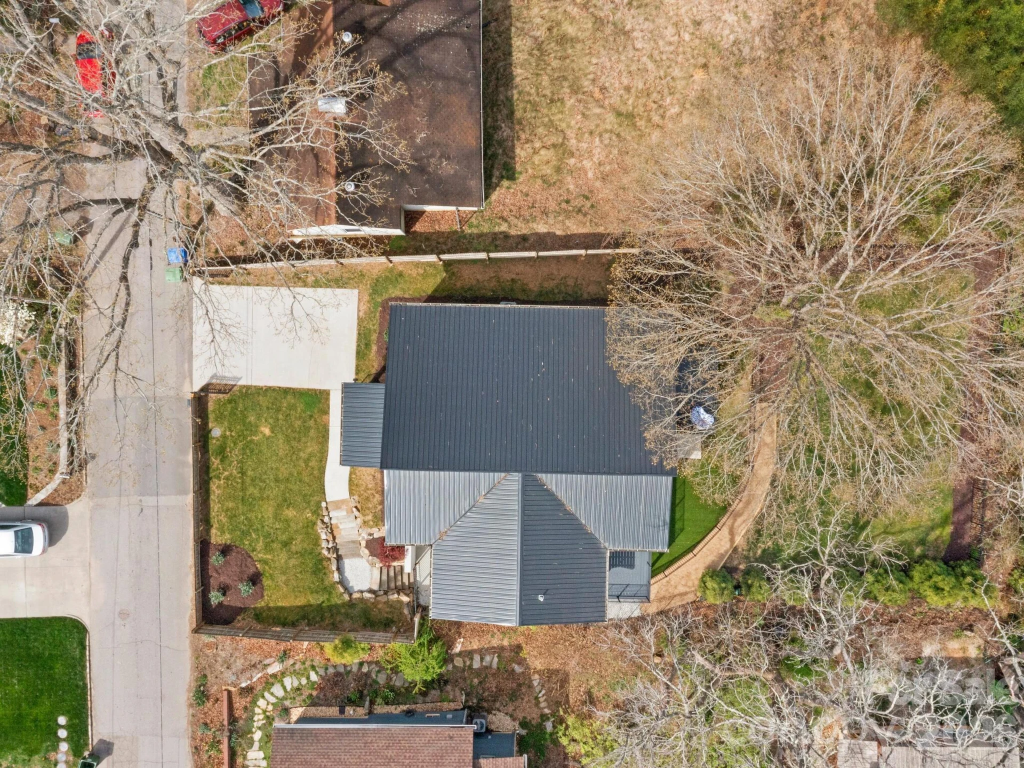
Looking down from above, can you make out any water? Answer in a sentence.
No, no water is visible.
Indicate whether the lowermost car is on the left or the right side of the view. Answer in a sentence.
The lowermost car sits on the left side.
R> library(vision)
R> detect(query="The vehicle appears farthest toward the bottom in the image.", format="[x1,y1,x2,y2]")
[0,518,52,557]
